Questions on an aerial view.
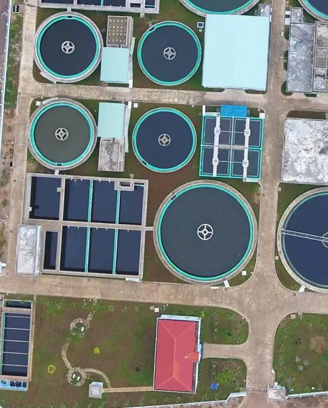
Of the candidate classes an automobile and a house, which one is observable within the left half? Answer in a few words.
house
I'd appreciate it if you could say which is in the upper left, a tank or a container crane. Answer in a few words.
tank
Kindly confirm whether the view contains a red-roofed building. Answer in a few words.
Yes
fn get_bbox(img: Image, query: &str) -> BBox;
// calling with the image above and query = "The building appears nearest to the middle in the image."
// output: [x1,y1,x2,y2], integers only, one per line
[97,103,130,150]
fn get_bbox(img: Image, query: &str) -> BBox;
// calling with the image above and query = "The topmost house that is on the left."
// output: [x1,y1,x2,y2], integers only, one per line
[100,37,136,83]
